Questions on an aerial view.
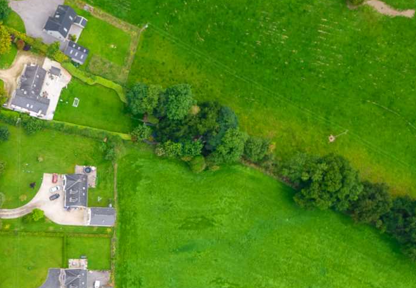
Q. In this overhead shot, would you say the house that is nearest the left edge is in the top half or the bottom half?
top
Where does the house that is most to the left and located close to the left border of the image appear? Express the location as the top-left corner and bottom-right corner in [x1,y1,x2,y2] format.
[9,65,50,119]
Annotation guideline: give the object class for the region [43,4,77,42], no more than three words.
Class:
house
